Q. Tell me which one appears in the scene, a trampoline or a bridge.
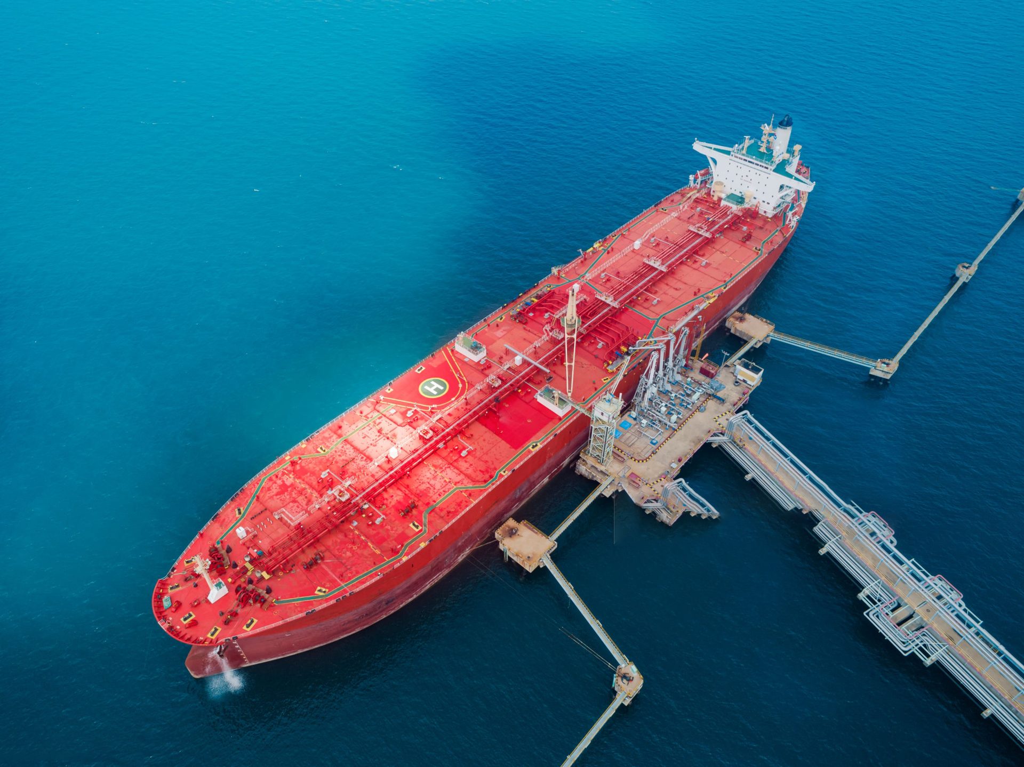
bridge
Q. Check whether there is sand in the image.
No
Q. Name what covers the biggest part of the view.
water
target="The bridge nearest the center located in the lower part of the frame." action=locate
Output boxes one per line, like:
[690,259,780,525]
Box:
[549,474,615,542]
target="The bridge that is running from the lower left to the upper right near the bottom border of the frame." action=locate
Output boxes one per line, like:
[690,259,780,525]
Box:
[556,689,627,767]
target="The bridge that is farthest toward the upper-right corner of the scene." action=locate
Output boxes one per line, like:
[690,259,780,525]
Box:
[970,197,1024,266]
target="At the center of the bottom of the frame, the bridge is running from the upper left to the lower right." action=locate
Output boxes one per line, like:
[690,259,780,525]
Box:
[542,553,629,665]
